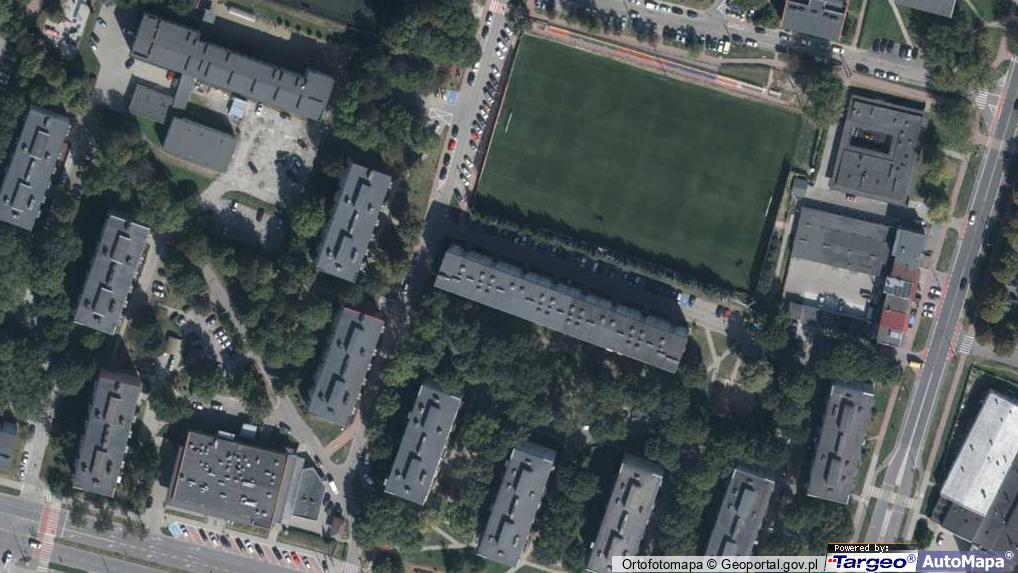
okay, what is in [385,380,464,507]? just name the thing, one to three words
building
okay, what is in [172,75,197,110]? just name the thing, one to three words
shed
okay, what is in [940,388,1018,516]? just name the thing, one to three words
building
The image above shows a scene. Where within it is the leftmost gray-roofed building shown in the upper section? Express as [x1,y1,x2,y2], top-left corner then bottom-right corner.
[0,105,80,232]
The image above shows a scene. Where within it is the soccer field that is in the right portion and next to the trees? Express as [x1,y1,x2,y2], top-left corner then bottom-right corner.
[472,34,803,290]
